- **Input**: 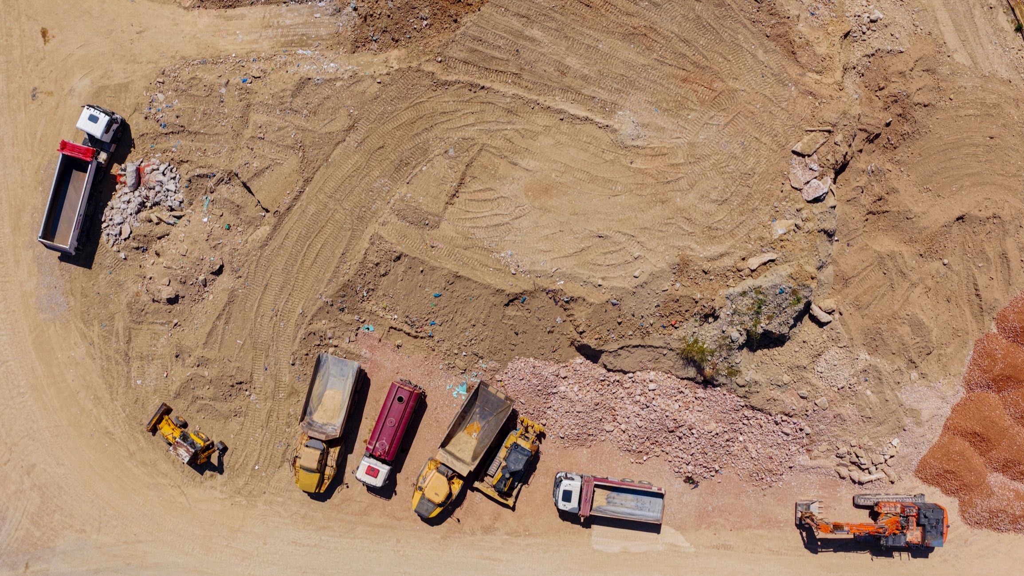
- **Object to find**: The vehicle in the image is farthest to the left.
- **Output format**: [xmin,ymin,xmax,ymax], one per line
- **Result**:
[36,102,128,256]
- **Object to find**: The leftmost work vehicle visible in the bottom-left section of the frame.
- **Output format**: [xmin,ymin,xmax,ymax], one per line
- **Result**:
[150,402,227,467]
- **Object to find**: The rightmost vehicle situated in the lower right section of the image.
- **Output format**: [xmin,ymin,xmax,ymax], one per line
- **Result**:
[796,494,949,549]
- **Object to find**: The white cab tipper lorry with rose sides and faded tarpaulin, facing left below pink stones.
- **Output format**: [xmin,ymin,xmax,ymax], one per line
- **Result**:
[549,468,666,524]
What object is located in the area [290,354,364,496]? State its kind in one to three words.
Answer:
truck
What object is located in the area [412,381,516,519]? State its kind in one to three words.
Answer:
truck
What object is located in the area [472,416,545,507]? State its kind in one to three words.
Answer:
work vehicle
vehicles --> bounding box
[549,468,666,524]
[796,494,949,549]
[290,354,364,496]
[472,416,545,507]
[412,381,516,519]
[346,372,426,498]
[150,402,227,467]
[36,102,128,256]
